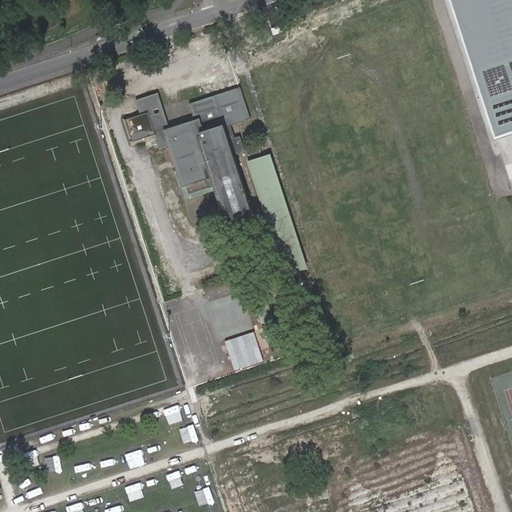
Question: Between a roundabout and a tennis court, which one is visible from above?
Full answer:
The image shows a tennis court.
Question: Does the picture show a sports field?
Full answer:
Yes, I can see a sports field in this picture.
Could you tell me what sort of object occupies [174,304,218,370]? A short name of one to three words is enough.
tennis court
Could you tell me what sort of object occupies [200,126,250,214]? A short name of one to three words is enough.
building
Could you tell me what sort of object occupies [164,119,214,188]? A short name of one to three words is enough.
building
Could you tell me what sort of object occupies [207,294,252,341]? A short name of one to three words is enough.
sports court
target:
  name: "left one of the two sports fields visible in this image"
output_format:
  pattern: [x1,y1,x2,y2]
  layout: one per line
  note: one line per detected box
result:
[0,84,178,443]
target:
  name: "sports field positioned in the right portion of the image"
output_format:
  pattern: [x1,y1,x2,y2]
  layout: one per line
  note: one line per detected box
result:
[240,0,512,342]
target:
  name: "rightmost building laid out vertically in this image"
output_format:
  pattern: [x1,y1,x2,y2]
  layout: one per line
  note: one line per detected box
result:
[446,0,512,138]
